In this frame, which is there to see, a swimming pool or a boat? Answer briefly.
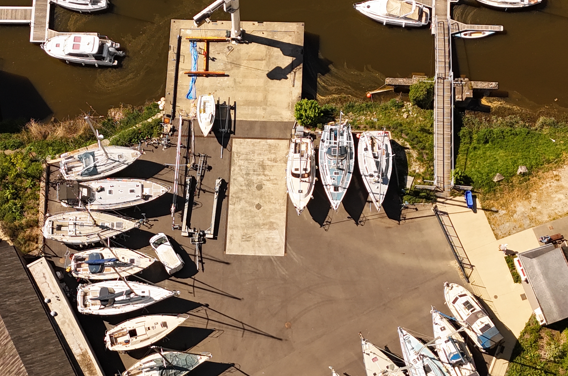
boat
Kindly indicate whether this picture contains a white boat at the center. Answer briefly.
Yes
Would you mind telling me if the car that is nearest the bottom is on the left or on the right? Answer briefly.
left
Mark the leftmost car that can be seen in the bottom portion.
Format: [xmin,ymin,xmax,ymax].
[151,232,185,275]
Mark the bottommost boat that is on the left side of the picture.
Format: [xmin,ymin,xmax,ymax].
[122,337,214,376]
